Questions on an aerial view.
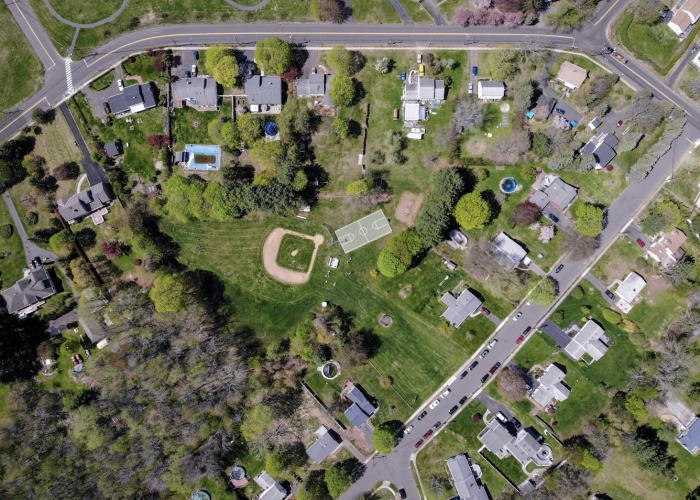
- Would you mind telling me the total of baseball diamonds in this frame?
1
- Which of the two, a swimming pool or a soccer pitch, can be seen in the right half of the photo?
swimming pool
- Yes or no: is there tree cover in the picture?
Yes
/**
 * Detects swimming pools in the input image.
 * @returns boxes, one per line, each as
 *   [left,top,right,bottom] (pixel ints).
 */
[317,360,340,381]
[445,227,470,250]
[185,144,221,170]
[265,121,280,142]
[191,489,210,500]
[230,458,250,488]
[500,176,522,193]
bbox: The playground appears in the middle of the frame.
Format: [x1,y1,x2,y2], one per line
[396,191,425,226]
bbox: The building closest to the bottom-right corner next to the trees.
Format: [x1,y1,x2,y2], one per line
[660,412,700,458]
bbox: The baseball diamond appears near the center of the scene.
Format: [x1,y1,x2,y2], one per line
[262,229,324,285]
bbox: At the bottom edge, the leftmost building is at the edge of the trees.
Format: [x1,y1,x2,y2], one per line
[254,469,293,500]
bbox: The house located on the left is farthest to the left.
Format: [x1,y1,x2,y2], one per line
[1,267,60,315]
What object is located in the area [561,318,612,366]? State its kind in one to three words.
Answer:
house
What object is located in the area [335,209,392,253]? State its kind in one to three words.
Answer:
basketball court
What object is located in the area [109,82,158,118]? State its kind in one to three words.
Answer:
house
